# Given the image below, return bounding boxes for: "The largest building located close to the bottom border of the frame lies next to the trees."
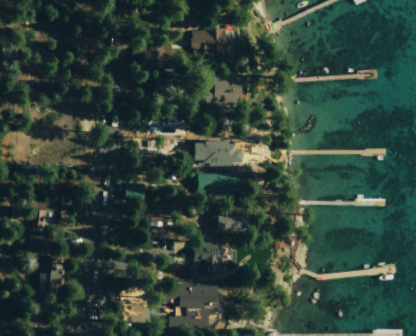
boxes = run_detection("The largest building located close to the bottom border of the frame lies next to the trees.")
[164,284,218,327]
